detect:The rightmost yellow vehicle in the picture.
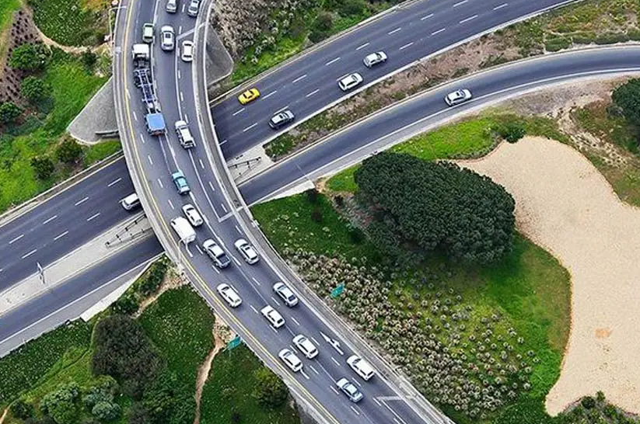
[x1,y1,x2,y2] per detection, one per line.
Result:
[237,89,261,106]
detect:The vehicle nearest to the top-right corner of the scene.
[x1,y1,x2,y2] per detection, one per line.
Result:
[444,90,472,106]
